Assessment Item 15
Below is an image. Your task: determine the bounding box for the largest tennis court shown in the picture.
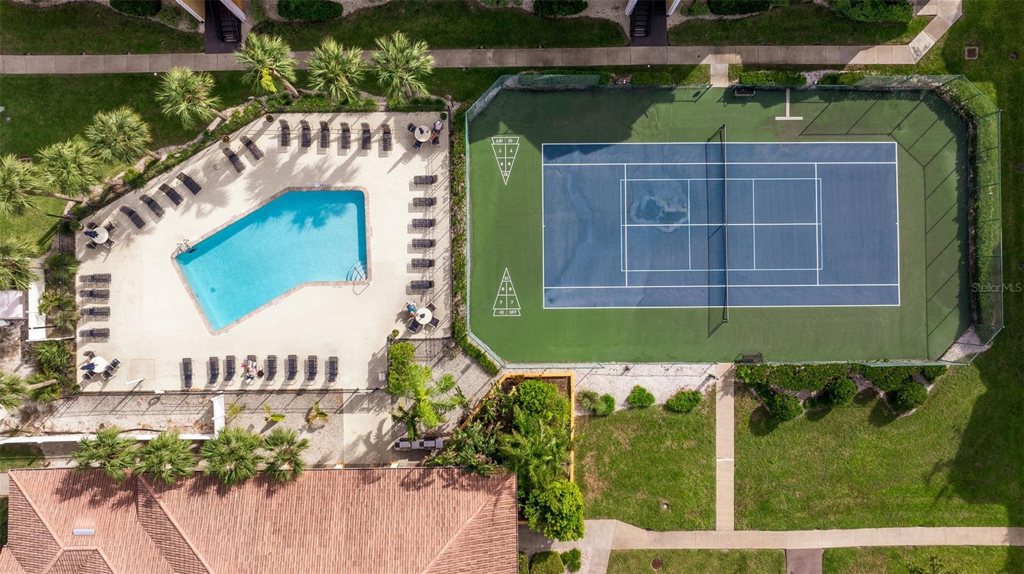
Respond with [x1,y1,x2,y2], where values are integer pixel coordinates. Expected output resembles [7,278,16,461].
[470,87,971,363]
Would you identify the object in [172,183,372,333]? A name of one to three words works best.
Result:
swimming pool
